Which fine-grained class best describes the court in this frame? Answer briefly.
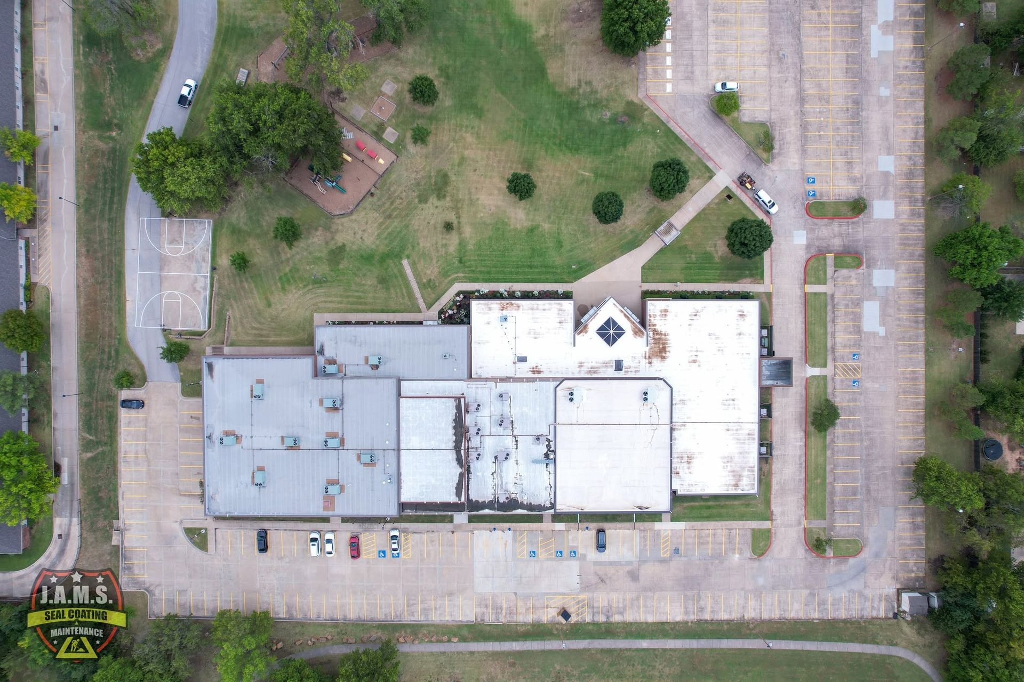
basketball court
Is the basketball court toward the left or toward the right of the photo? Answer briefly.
left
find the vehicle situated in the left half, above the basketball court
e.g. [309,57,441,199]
[178,79,197,109]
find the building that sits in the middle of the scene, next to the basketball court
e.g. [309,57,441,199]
[202,297,760,518]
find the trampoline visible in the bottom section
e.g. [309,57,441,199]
[983,441,1003,460]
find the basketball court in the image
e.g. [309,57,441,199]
[135,216,213,331]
